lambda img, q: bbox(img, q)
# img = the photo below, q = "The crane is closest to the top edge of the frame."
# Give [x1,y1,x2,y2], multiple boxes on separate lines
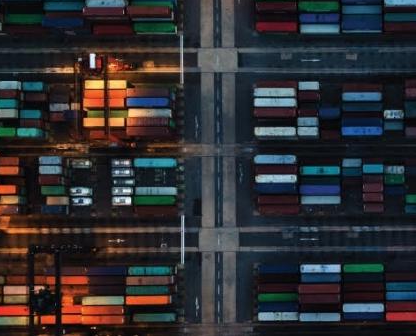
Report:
[74,49,138,150]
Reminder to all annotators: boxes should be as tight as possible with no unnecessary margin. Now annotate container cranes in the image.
[74,49,138,150]
[26,245,95,336]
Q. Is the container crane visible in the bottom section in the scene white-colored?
No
